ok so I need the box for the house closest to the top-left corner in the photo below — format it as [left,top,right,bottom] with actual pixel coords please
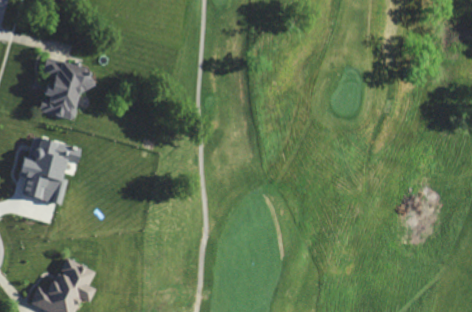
[38,59,98,120]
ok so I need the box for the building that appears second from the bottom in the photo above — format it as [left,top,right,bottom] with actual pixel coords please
[22,138,82,204]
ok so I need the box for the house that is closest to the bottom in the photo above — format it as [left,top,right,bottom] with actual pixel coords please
[34,254,98,312]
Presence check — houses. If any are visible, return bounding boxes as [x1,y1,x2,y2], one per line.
[22,138,82,204]
[34,254,98,312]
[38,59,98,120]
